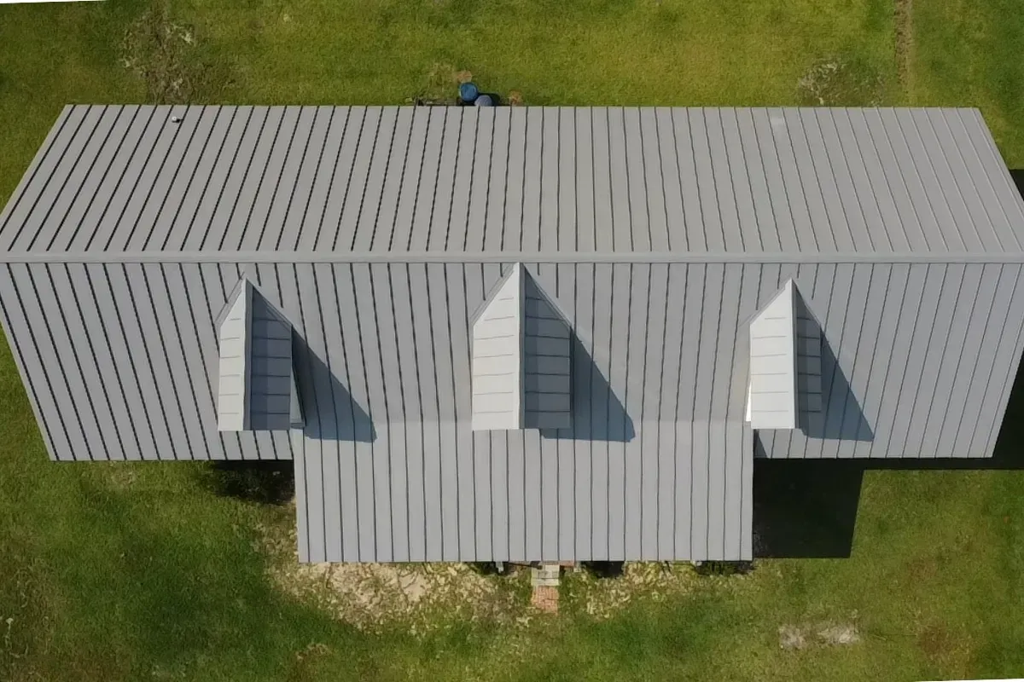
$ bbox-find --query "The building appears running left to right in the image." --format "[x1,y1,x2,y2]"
[0,104,1024,565]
